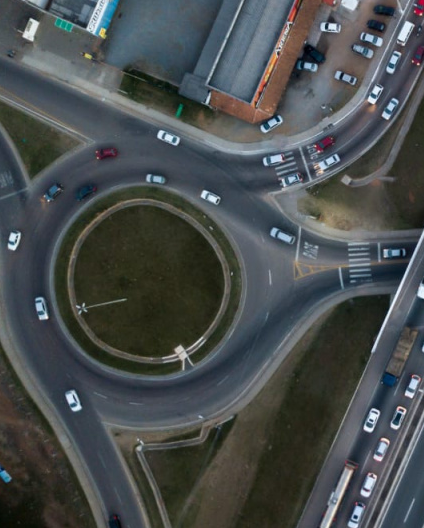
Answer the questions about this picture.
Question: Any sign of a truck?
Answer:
Yes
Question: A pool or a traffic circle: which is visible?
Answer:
traffic circle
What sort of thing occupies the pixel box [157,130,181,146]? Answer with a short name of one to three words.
car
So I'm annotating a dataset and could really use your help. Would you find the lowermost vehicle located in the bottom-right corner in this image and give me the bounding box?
[348,502,365,528]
